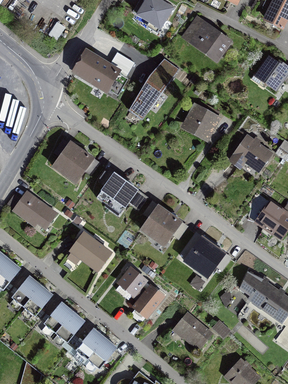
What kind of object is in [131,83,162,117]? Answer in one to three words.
solar array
